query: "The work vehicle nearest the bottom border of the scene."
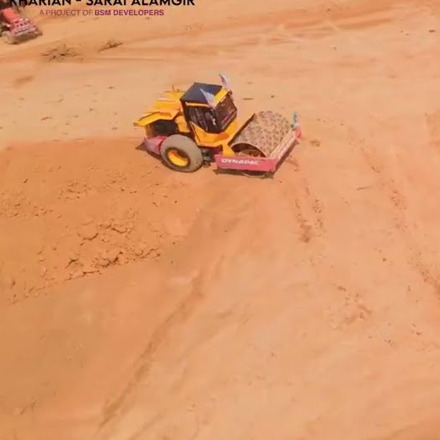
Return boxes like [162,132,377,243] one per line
[127,85,297,179]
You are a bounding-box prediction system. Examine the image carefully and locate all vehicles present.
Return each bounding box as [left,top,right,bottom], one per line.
[127,85,297,179]
[0,0,40,47]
